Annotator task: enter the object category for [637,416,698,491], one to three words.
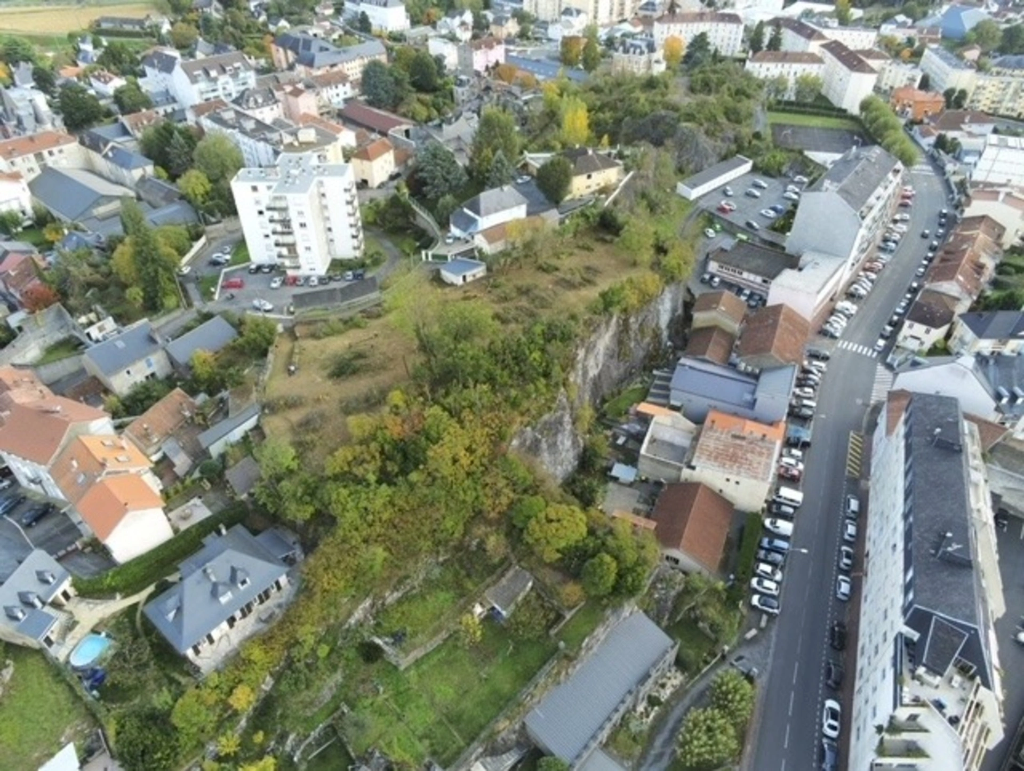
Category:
building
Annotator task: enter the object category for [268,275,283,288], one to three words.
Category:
vehicle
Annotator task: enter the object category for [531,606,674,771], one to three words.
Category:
warehouse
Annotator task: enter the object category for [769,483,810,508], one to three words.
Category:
vehicle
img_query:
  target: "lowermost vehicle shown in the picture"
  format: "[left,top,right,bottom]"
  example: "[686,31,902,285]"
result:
[817,731,842,771]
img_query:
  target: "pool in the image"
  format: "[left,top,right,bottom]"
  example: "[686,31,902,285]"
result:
[62,626,114,668]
